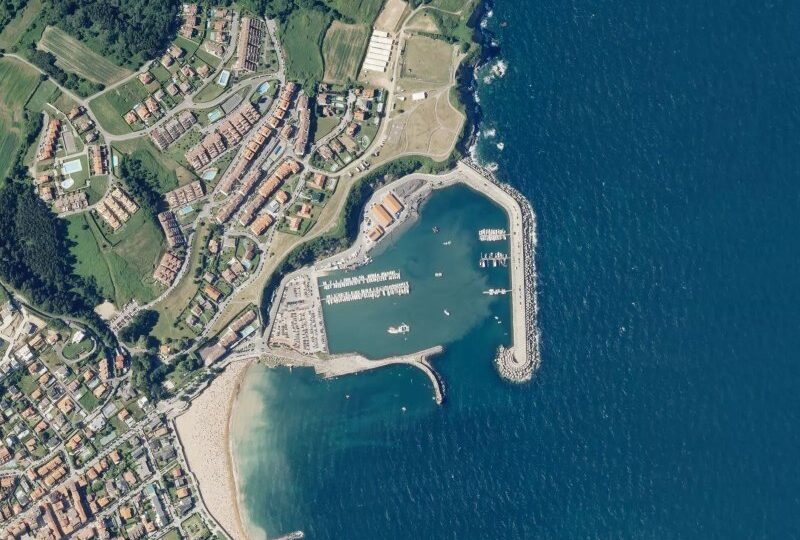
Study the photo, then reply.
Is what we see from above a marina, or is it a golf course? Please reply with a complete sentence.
This image shows a marina.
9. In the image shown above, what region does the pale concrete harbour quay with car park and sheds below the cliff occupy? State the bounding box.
[255,161,460,367]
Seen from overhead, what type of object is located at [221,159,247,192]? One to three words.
building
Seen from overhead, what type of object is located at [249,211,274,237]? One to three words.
building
